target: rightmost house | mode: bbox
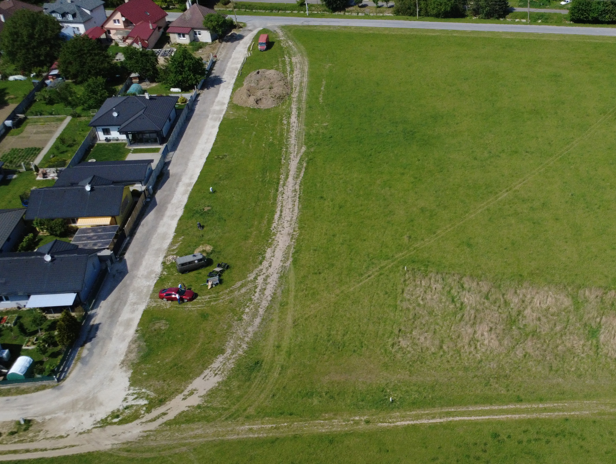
[165,0,232,40]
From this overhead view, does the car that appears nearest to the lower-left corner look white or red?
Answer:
red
